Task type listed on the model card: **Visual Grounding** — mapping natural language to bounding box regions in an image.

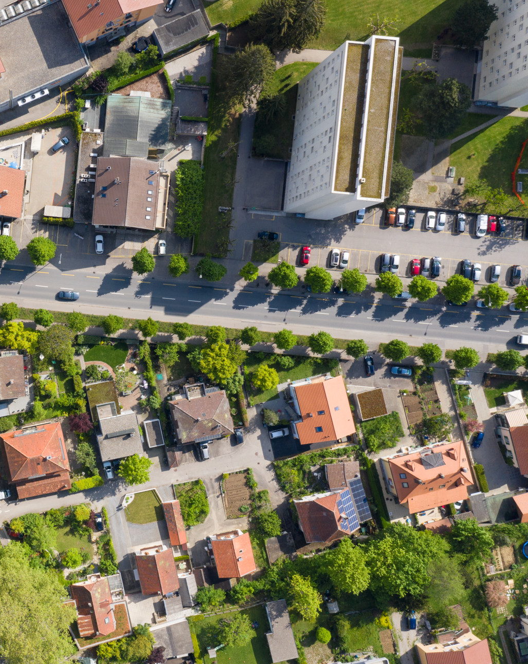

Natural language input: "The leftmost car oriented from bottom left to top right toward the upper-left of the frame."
[51,136,70,153]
